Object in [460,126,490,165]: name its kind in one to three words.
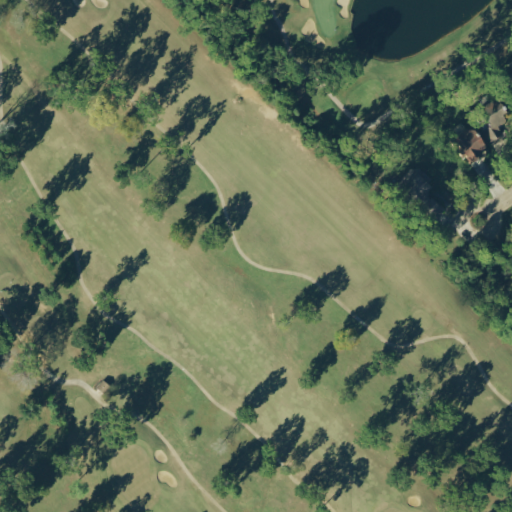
house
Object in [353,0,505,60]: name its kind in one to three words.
pond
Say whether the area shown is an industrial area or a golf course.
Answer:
golf course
